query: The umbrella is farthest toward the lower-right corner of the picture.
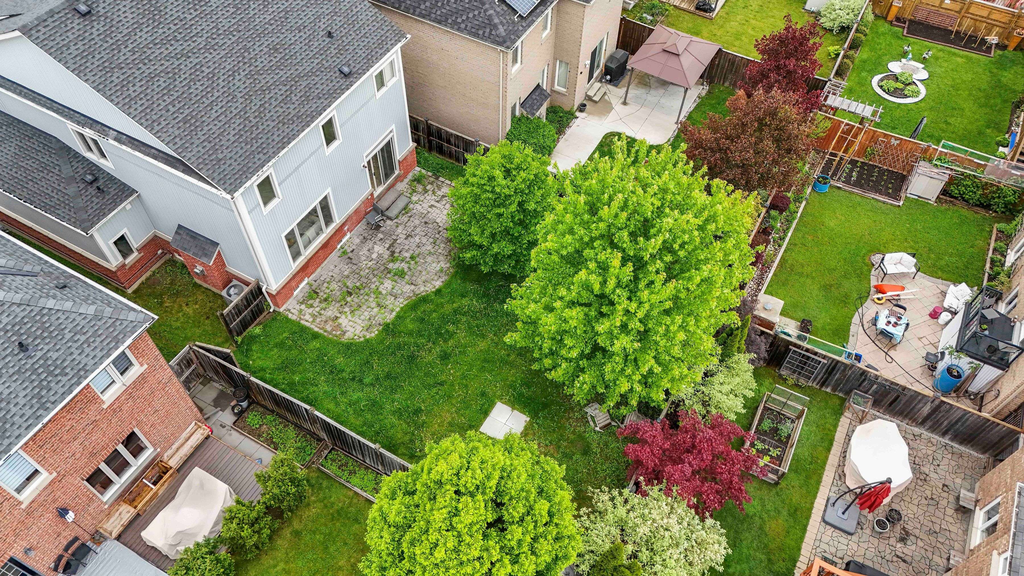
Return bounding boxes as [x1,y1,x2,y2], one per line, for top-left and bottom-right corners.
[823,477,892,535]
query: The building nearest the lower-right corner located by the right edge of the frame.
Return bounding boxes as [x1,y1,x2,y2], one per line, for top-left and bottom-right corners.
[951,438,1024,576]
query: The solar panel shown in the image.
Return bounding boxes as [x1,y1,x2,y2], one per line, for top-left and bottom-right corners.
[510,0,547,20]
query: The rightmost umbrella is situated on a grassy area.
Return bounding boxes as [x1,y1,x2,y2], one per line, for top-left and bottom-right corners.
[909,113,929,145]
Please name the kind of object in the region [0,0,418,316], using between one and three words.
house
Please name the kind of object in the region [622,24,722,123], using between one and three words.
gazebo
